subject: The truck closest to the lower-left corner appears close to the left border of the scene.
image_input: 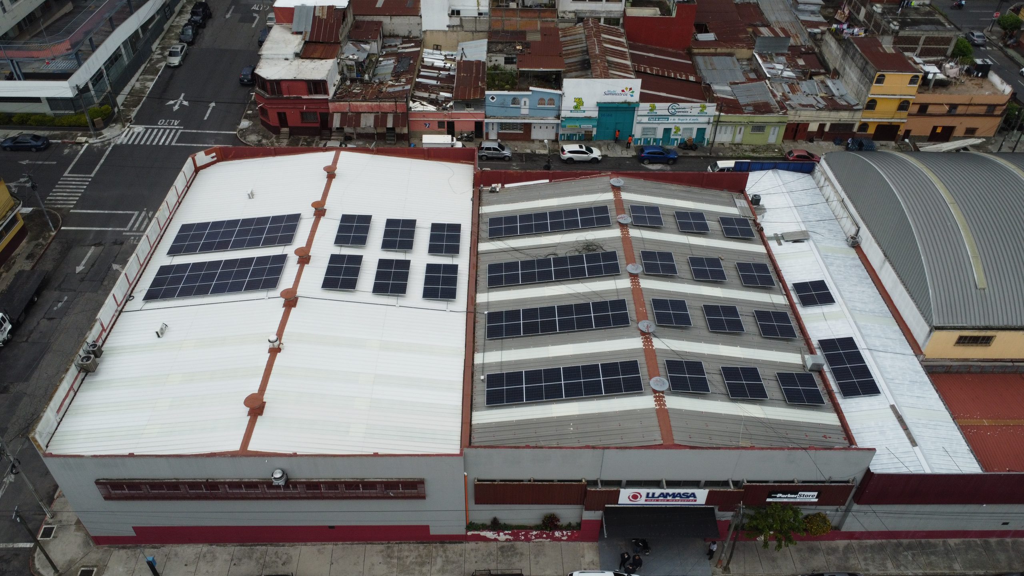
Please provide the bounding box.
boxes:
[0,274,44,351]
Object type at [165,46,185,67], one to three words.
car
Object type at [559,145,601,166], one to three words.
car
